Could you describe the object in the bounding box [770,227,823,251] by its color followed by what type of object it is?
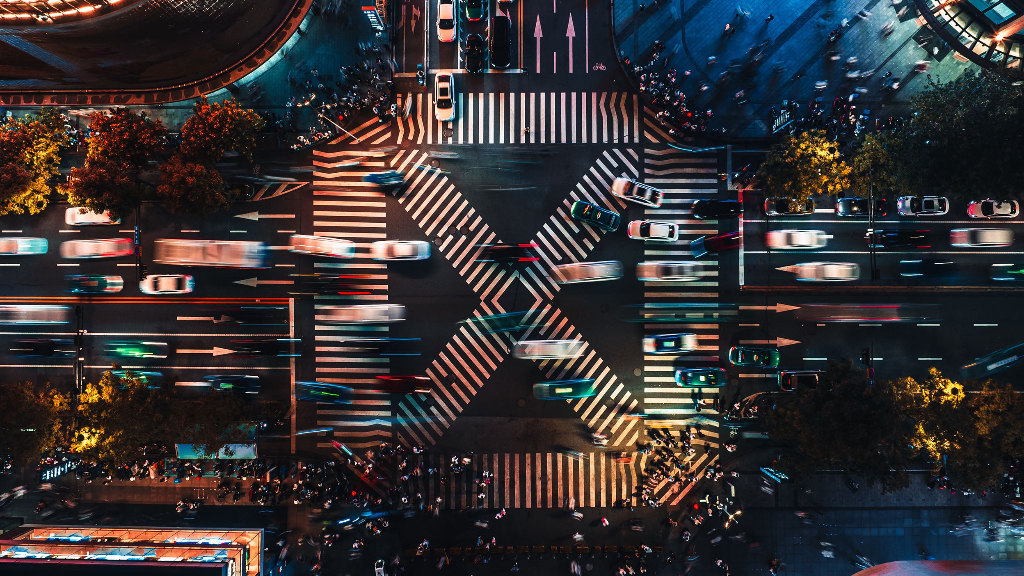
white car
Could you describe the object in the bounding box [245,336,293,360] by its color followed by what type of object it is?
black car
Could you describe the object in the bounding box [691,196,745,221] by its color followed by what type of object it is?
black car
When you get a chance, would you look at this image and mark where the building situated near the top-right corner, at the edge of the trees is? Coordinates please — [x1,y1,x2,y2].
[907,0,1024,75]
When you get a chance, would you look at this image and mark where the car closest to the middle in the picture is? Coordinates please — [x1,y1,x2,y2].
[486,240,533,264]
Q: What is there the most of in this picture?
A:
paved ground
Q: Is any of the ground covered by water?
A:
No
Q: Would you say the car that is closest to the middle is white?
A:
No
